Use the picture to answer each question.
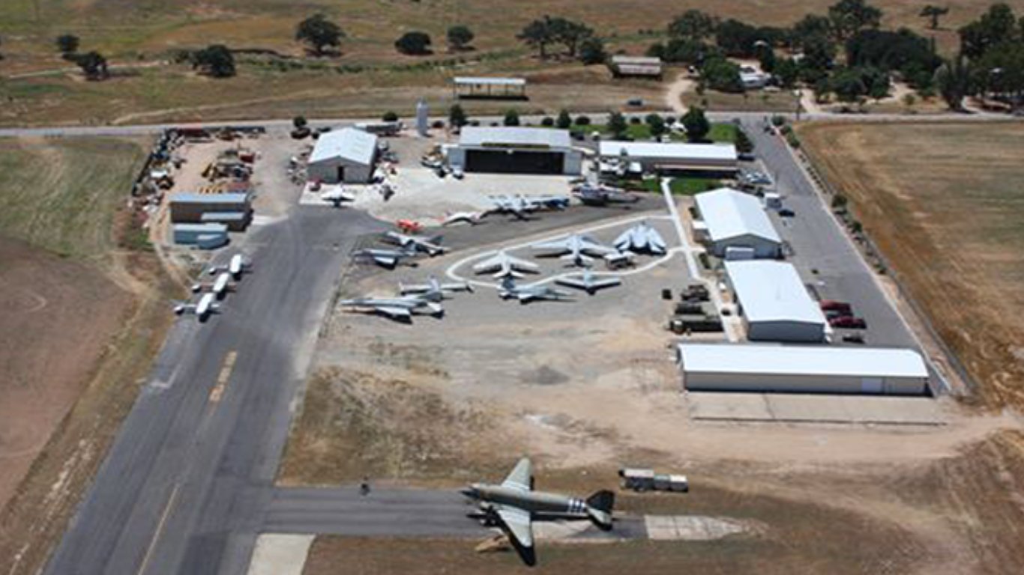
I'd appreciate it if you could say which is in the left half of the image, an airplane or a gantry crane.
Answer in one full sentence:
The one visible in the left half of the image is an airplane.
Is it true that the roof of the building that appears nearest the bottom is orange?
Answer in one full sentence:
No, the roof of the building that appears nearest the bottom is white.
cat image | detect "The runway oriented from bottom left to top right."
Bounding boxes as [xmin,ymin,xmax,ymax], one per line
[46,205,384,575]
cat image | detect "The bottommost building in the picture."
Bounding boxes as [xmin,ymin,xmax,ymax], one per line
[677,343,934,397]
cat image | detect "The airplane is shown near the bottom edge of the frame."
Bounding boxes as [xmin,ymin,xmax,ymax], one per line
[459,457,613,550]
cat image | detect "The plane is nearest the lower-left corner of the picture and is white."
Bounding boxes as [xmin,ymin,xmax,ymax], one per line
[172,295,224,319]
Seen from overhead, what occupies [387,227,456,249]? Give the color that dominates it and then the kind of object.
gray airplane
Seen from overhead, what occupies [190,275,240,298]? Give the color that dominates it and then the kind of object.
white airplane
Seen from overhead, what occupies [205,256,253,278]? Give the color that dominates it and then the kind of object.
white airplane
